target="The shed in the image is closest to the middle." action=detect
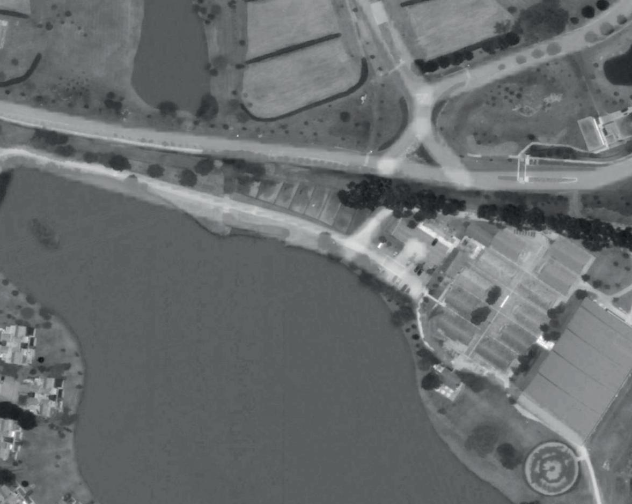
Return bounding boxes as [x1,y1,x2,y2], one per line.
[416,221,462,255]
